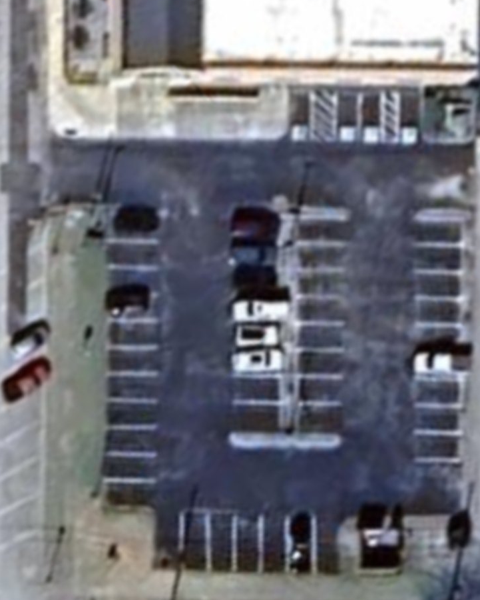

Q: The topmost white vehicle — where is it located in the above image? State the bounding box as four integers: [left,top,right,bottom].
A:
[232,294,288,320]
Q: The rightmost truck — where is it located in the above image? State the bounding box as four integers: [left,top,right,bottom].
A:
[413,346,472,371]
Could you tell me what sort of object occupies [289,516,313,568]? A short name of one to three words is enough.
car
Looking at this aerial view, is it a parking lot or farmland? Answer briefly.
parking lot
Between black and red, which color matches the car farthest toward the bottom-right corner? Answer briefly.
black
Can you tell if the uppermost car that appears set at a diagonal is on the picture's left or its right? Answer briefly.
left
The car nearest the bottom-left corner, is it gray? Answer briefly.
No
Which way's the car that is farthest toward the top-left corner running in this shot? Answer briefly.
horizontally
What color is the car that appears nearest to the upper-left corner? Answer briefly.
black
